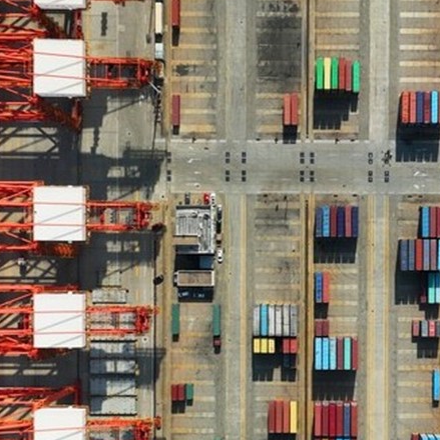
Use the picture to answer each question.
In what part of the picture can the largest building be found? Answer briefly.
center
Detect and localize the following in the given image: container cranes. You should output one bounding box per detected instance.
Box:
[0,0,94,41]
[0,33,159,125]
[0,271,159,363]
[0,369,159,440]
[0,179,159,259]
